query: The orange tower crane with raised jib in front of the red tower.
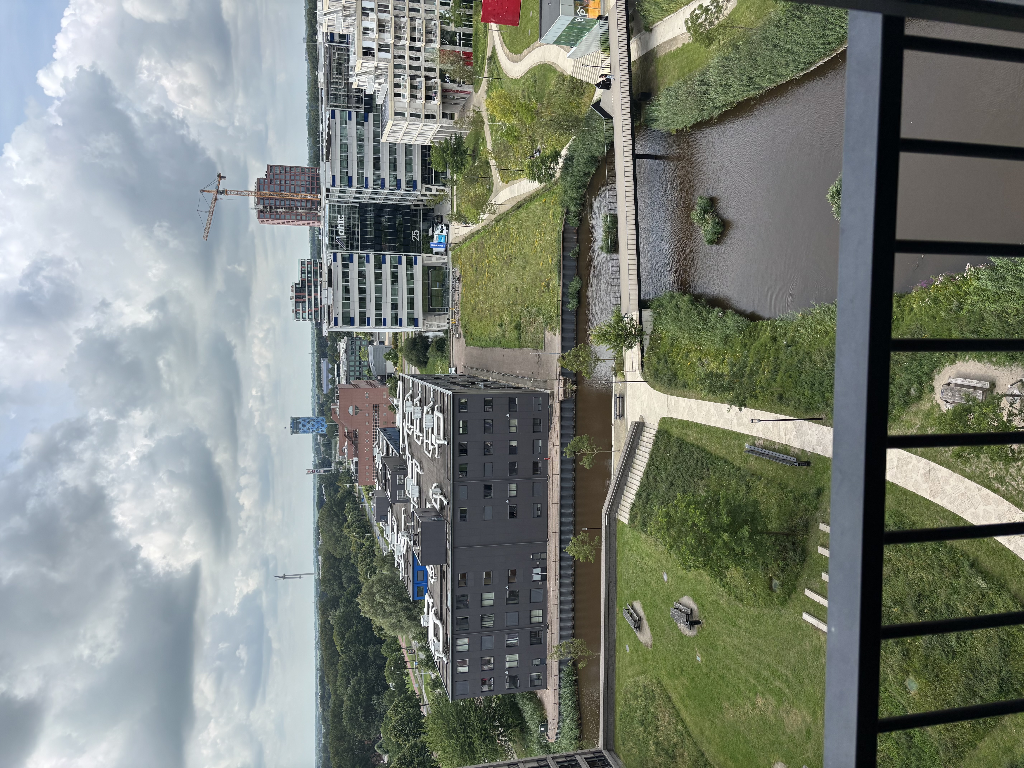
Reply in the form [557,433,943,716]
[198,173,321,241]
